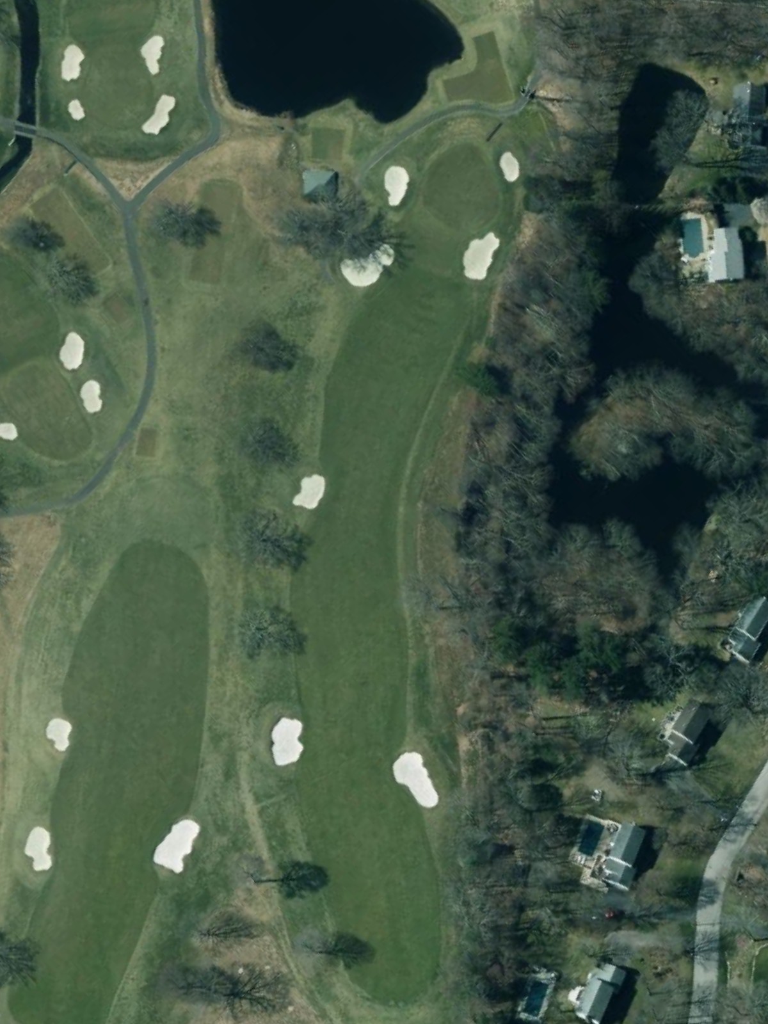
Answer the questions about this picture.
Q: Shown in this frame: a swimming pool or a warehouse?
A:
swimming pool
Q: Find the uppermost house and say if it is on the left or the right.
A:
right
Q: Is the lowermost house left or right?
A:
right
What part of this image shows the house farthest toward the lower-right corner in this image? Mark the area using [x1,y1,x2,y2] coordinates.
[576,963,629,1022]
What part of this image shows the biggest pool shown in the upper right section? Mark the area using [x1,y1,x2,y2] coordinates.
[682,218,704,257]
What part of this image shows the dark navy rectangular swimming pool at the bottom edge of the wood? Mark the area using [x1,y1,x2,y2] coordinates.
[523,978,550,1018]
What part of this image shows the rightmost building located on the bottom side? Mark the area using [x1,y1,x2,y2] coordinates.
[725,595,768,659]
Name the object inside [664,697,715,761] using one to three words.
house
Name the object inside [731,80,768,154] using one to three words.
house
